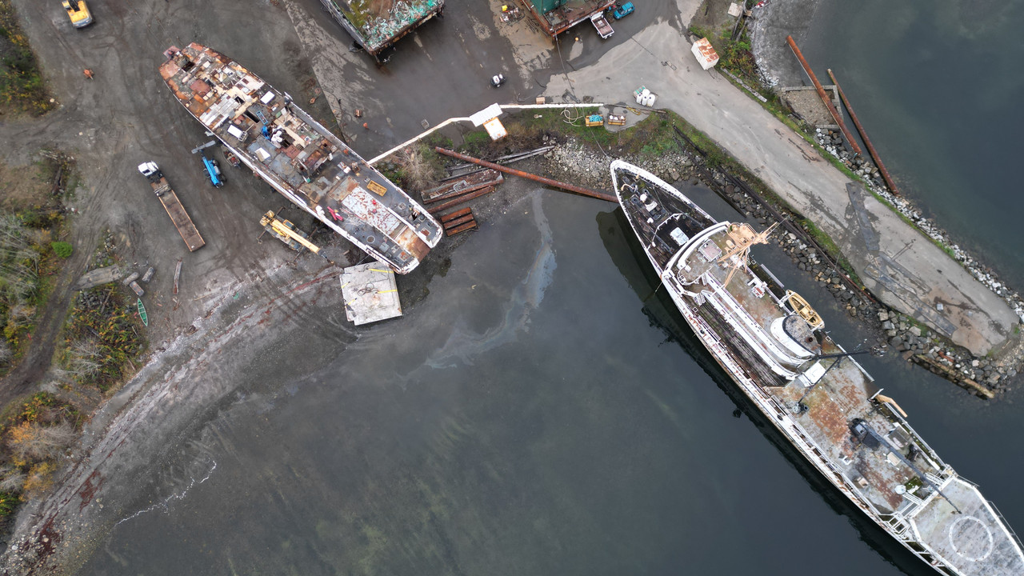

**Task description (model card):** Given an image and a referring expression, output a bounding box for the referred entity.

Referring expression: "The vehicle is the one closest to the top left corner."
[59,0,92,27]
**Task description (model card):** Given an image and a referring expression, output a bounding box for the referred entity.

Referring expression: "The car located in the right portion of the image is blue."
[613,1,635,20]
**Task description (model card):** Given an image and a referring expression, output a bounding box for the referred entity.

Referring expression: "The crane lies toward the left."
[258,207,331,263]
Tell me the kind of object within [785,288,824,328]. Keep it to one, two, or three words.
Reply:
boat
